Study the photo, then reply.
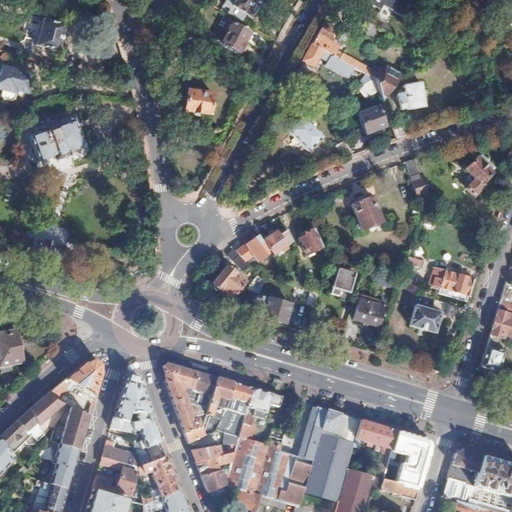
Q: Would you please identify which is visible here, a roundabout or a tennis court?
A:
roundabout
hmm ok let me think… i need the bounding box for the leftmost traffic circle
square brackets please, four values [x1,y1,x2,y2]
[111,283,185,360]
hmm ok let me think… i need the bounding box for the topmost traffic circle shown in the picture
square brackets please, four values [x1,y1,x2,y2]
[167,214,208,255]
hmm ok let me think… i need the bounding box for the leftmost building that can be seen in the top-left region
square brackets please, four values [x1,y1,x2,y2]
[0,66,32,102]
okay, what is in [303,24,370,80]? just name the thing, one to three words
house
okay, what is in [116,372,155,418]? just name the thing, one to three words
building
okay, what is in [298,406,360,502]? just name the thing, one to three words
building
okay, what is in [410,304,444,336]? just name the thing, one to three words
house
